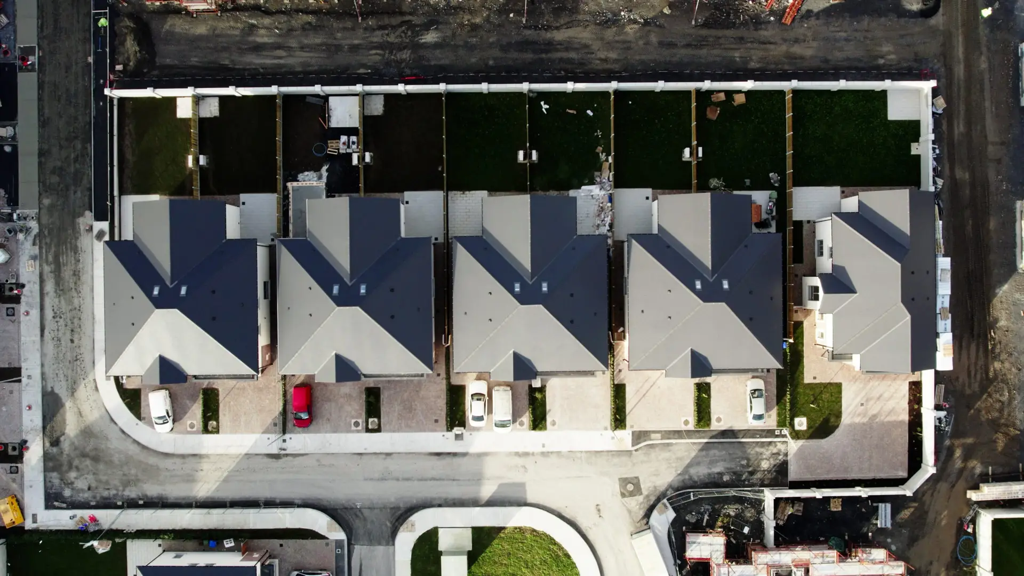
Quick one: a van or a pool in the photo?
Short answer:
van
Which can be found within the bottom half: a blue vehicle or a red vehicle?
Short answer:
red vehicle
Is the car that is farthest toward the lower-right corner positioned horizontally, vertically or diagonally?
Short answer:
vertically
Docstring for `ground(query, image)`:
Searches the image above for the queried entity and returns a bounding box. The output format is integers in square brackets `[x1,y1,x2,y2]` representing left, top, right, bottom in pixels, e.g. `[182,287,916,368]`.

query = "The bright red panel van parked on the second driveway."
[290,383,313,427]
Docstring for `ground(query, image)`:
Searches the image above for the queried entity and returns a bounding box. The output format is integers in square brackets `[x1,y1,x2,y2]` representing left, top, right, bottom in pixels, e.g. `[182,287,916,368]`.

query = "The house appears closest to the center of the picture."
[451,192,609,381]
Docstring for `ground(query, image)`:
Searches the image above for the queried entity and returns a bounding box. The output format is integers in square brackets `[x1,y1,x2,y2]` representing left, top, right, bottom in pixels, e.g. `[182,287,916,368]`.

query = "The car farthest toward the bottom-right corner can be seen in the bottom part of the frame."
[745,377,769,424]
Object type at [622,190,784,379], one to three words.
house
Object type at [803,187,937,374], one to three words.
house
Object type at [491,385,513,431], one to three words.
car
